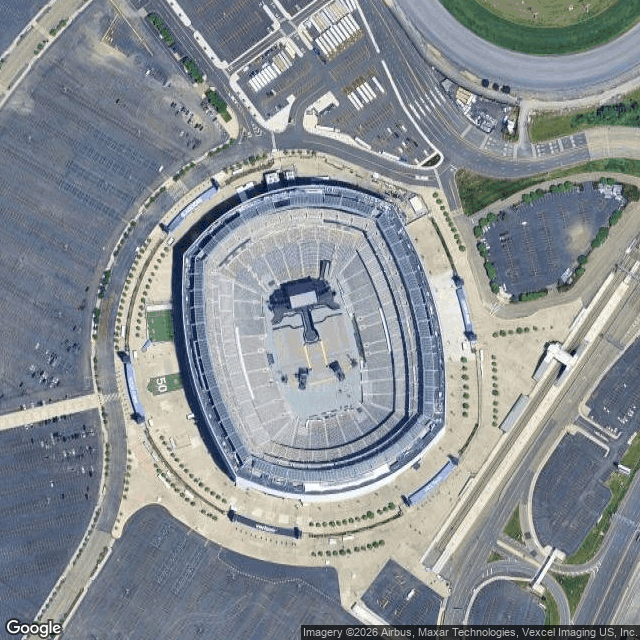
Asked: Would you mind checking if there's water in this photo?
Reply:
No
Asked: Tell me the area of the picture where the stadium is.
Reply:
center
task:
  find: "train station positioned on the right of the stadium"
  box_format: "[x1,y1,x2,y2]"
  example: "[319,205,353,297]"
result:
[534,337,589,386]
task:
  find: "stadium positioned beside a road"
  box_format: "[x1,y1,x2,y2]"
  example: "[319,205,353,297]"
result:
[181,184,446,503]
